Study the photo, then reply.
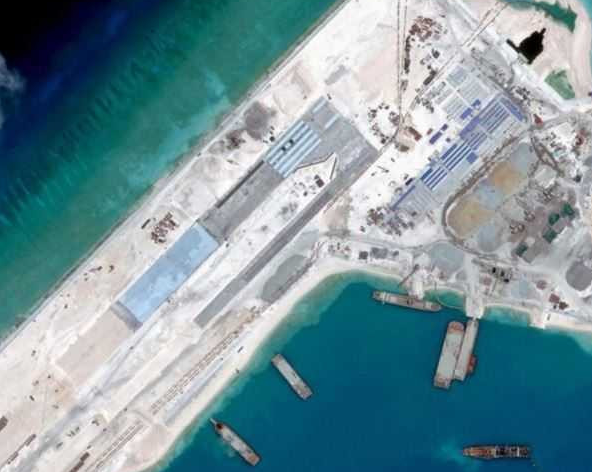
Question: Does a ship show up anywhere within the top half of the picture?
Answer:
No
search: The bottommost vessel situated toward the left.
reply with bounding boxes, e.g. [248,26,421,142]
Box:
[210,418,260,465]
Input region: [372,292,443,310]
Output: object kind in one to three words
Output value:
ship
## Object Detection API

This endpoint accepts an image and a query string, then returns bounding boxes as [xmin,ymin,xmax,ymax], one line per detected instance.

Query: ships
[271,354,312,399]
[453,320,478,381]
[435,321,463,390]
[372,292,443,310]
[210,418,260,465]
[462,446,529,457]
